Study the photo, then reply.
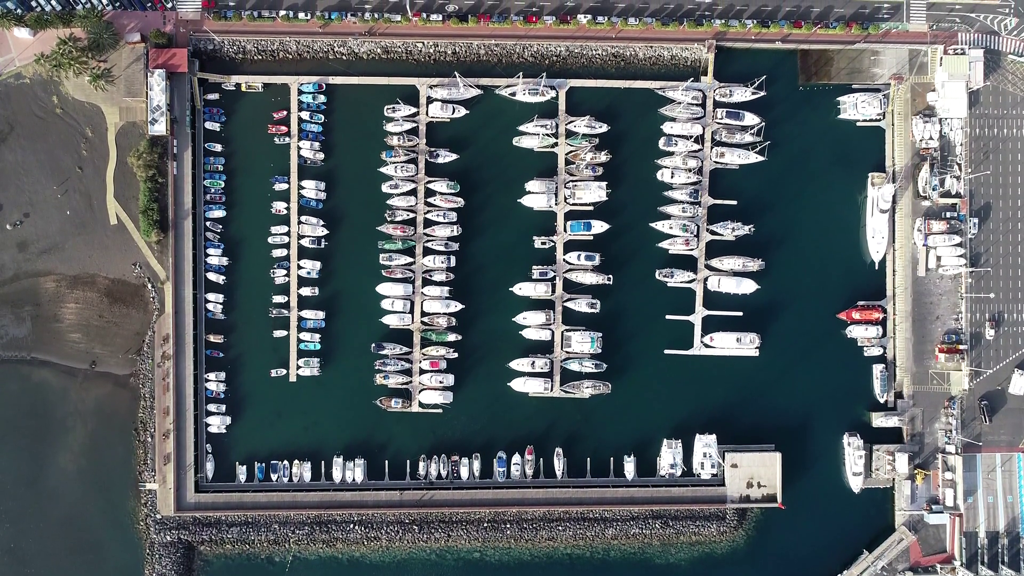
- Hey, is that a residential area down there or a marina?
marina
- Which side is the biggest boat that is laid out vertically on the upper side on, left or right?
right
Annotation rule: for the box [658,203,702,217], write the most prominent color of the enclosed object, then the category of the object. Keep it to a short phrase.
white boat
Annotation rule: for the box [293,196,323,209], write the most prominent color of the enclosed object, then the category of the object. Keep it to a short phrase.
blue boat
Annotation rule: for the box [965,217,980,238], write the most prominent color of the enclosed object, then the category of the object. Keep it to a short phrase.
white vehicle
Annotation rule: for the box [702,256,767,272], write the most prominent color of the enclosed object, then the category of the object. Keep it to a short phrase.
white boat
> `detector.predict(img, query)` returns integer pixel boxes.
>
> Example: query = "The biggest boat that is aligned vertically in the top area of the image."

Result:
[867,168,902,269]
